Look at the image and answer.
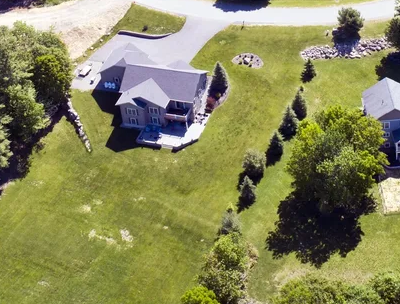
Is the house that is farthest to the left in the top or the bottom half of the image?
top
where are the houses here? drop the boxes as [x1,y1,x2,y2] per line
[358,73,400,166]
[100,41,206,130]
